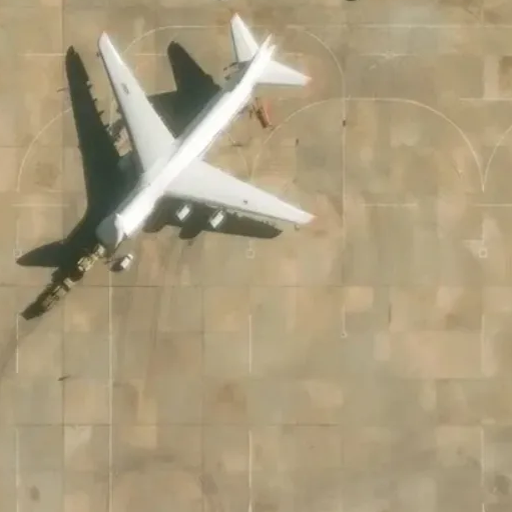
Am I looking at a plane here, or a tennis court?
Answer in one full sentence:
There is a plane in the scene.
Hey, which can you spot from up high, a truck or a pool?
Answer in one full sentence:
This aerial view contains a truck.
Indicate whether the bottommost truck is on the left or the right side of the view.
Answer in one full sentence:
The bottommost truck is on the left side of the image.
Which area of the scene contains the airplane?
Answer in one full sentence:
The airplane is located in the top region of the scene.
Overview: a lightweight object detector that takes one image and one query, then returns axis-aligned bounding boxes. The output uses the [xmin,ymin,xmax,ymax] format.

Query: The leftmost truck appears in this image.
[35,274,74,314]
